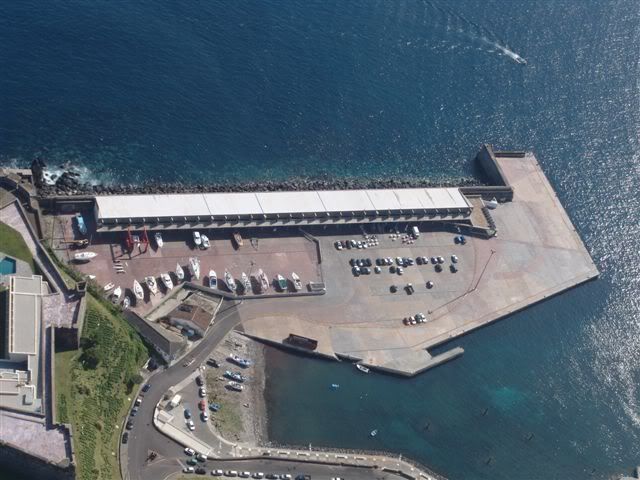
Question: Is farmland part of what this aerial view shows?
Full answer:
No, no farmland is visible.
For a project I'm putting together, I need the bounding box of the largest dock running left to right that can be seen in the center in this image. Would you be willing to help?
[52,152,598,379]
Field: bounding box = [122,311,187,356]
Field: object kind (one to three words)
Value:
shed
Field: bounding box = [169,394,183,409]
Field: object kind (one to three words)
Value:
vehicle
